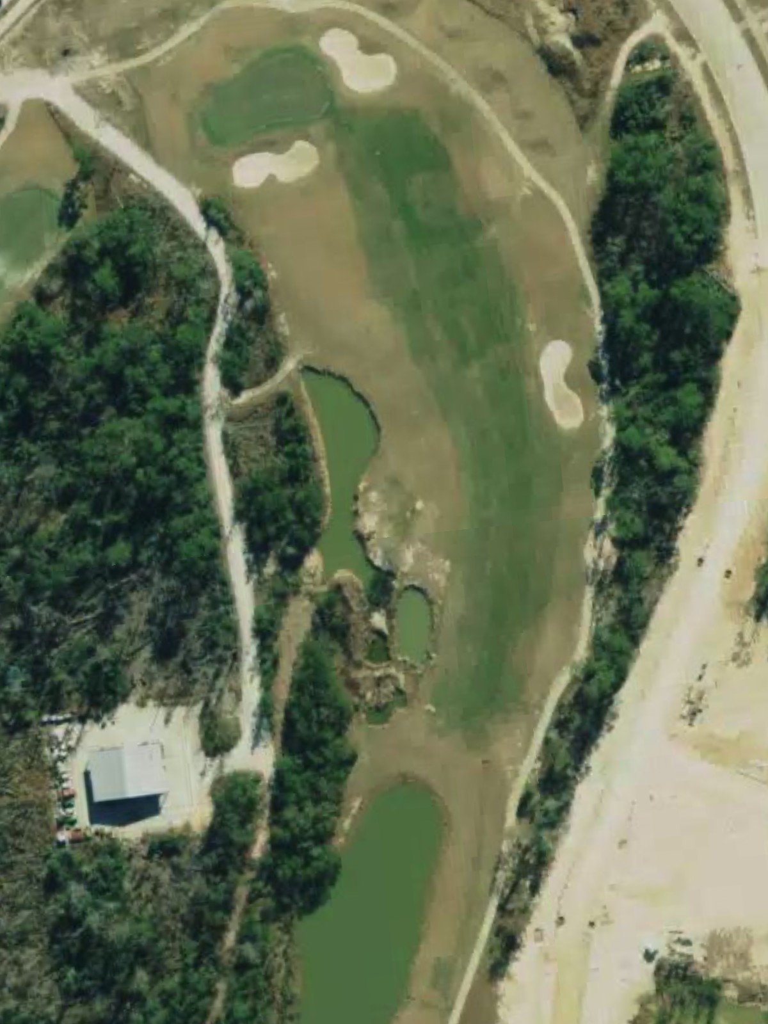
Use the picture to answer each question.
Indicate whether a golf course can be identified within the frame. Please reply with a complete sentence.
Yes, you can see a golf course in this photo.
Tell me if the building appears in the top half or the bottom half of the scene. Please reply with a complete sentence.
It is in the bottom half that the building appears.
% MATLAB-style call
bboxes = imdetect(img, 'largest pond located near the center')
[303,367,391,607]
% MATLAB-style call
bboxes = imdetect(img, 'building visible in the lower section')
[87,742,170,805]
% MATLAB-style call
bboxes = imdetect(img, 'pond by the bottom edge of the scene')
[294,780,446,1024]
